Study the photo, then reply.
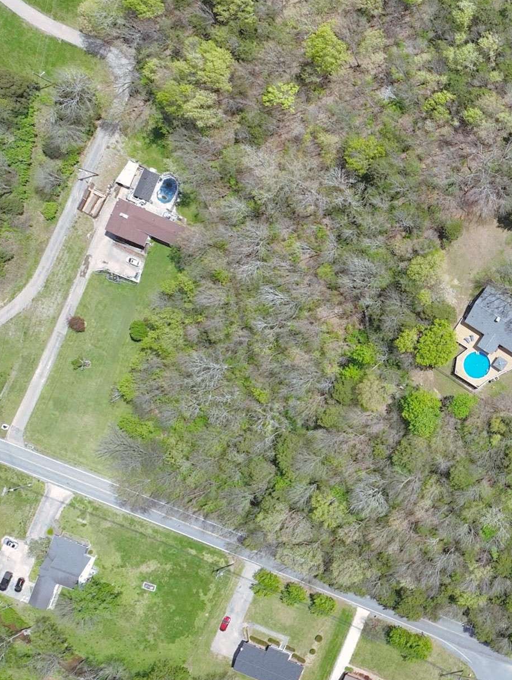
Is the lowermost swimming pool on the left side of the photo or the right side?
right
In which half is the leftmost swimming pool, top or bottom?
top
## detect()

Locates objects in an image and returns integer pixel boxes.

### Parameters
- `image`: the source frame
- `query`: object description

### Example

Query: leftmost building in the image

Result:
[27,535,102,611]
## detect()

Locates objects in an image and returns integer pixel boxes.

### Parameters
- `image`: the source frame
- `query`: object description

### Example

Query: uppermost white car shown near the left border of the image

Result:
[0,537,18,551]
